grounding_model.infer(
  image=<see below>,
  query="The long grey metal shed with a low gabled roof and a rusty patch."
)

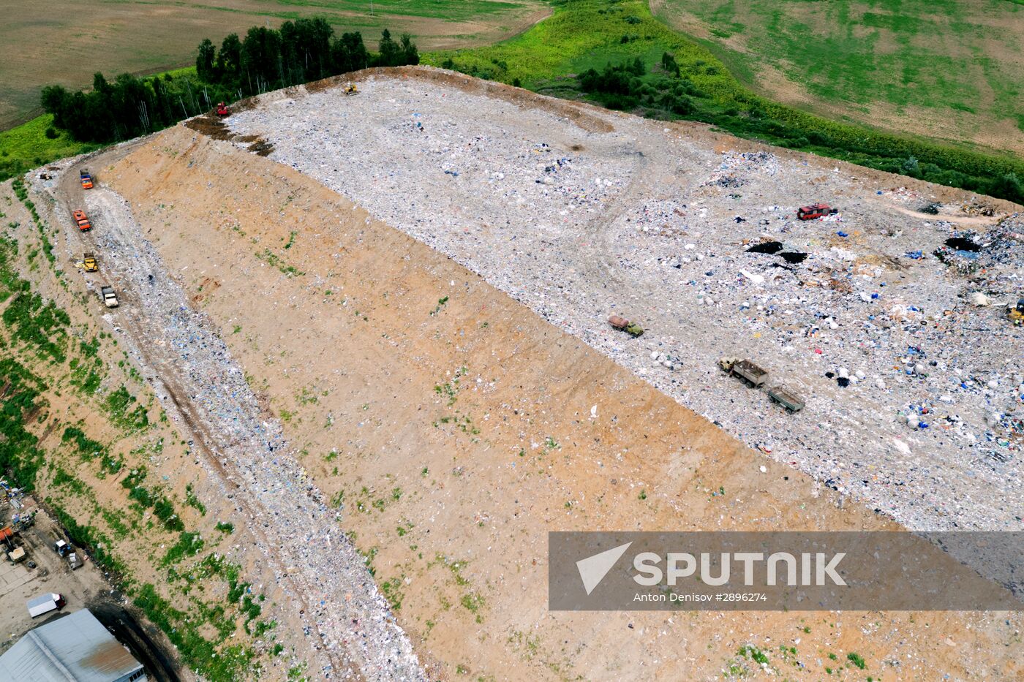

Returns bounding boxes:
[0,609,146,682]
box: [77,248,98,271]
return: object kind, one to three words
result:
truck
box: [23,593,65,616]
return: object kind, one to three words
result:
truck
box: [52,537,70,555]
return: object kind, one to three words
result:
work vehicle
